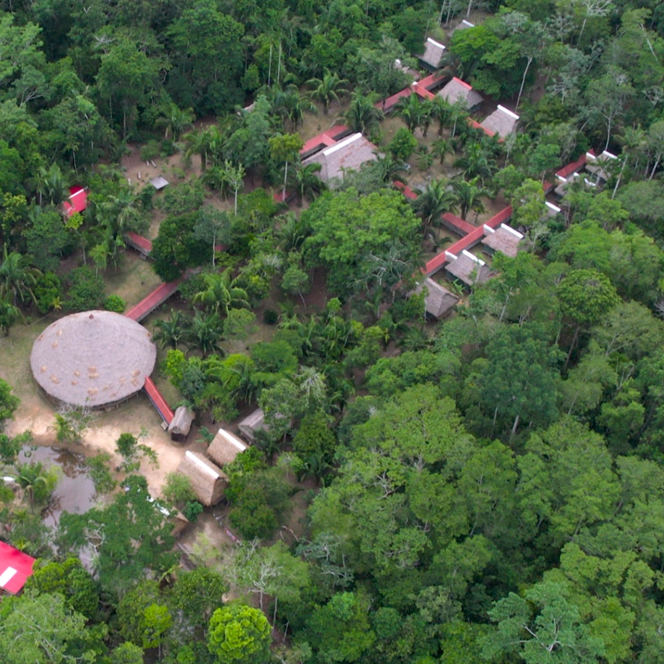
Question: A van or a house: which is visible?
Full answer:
The image shows a house.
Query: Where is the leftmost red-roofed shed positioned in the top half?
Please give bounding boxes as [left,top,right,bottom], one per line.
[61,186,97,216]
